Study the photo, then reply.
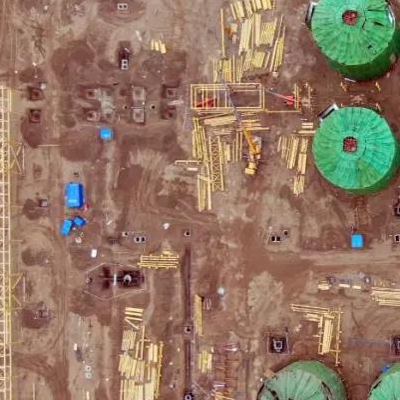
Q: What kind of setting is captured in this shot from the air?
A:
industrial area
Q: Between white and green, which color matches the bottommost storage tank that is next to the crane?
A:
green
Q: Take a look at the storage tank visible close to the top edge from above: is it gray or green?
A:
green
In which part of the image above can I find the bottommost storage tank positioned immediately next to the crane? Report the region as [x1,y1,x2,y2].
[313,102,400,195]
